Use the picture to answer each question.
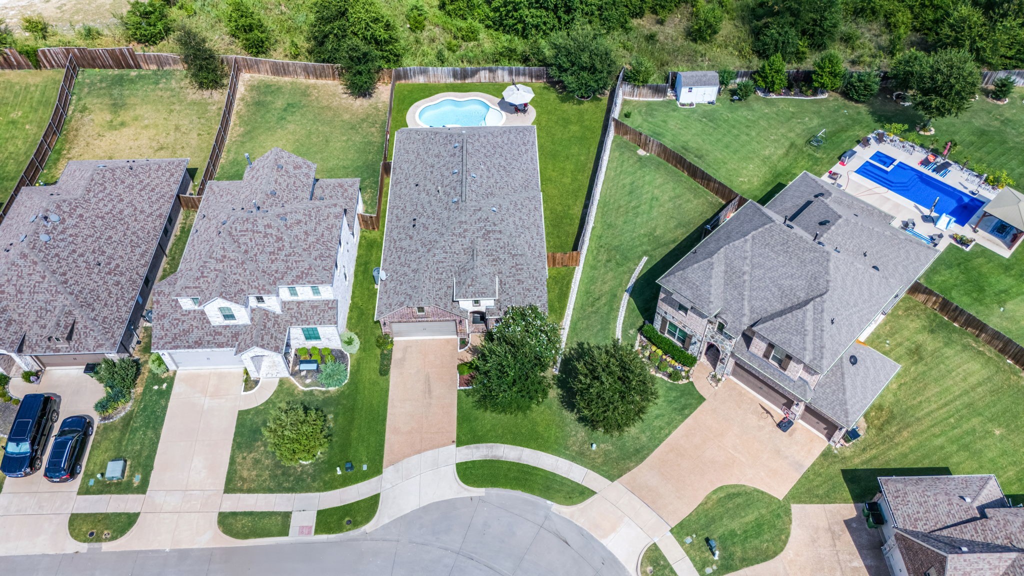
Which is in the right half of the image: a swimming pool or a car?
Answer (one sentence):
You can see a swimming pool in the right half of the image.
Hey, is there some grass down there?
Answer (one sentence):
Yes, there is grass in the image.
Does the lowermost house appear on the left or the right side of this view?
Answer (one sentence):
The lowermost house appears in the right half of the scene.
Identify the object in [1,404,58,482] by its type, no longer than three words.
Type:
car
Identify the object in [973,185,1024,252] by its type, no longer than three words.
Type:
building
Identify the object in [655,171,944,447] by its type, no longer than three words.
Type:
house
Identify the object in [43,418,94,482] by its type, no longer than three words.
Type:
car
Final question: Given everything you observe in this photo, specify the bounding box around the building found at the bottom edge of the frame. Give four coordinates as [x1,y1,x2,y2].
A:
[869,472,1024,576]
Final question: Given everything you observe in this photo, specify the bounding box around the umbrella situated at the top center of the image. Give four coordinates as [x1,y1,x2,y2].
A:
[503,81,534,108]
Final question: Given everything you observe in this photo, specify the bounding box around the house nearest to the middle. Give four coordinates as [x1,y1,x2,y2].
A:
[373,125,551,342]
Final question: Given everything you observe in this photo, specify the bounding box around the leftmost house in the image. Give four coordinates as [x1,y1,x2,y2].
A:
[0,156,197,376]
